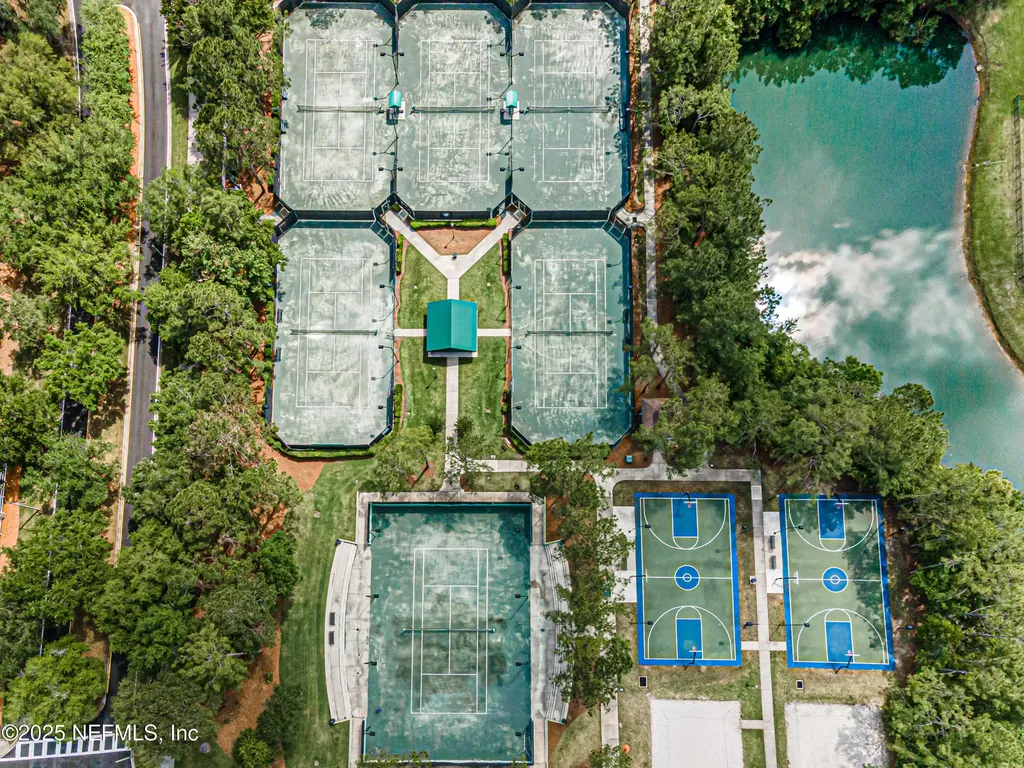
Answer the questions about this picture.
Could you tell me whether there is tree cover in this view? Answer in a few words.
Yes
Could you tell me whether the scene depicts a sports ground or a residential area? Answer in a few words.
sports ground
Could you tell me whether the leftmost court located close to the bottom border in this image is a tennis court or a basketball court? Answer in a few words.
tennis court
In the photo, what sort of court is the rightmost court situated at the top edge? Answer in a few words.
tennis court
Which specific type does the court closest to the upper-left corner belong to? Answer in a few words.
tennis court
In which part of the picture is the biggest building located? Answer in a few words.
center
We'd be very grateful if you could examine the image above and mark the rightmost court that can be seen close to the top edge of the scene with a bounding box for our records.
[512,5,627,213]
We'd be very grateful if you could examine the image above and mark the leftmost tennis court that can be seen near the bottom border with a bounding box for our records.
[365,505,534,762]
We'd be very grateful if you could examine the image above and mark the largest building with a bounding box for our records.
[427,300,478,357]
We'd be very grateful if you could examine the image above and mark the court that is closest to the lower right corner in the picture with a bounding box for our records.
[785,704,886,768]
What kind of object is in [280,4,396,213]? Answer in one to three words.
tennis court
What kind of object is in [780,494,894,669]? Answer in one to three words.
basketball court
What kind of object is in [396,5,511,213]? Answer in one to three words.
tennis court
